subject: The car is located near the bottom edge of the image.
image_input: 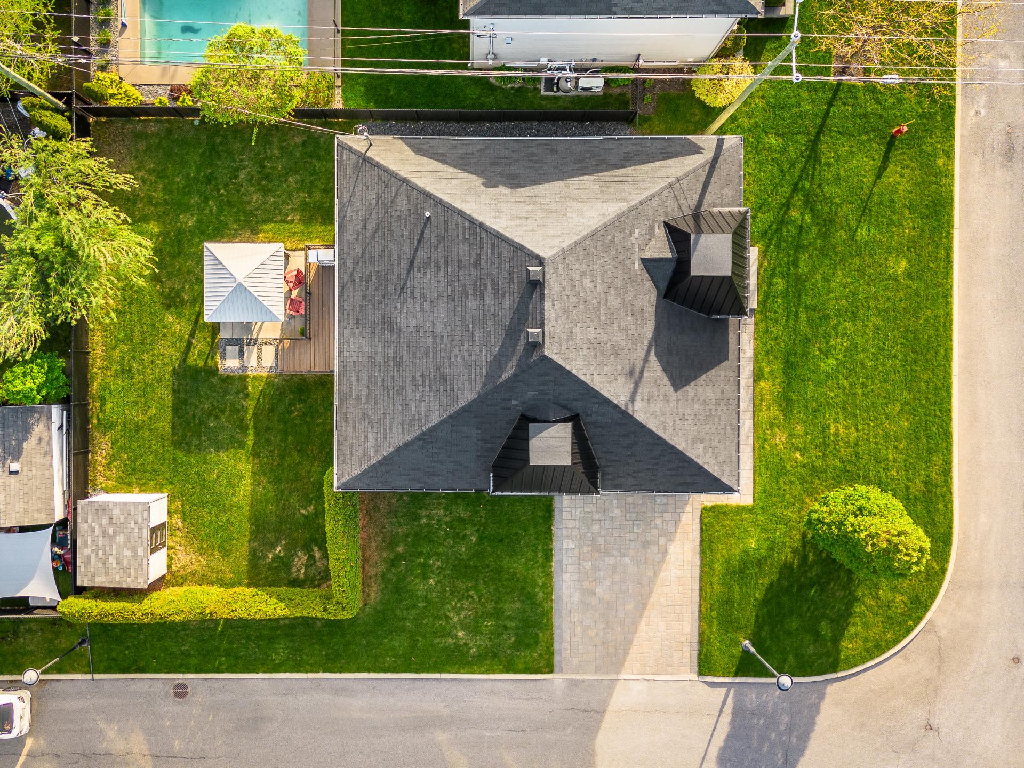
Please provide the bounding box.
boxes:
[0,686,35,737]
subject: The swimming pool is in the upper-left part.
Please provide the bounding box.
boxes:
[119,0,341,85]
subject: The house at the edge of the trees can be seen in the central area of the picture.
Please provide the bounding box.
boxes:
[333,133,752,497]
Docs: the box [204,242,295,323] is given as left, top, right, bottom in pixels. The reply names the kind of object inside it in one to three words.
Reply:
gazebo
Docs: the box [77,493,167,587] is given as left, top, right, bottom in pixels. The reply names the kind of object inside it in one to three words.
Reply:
shed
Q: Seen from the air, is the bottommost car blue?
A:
No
